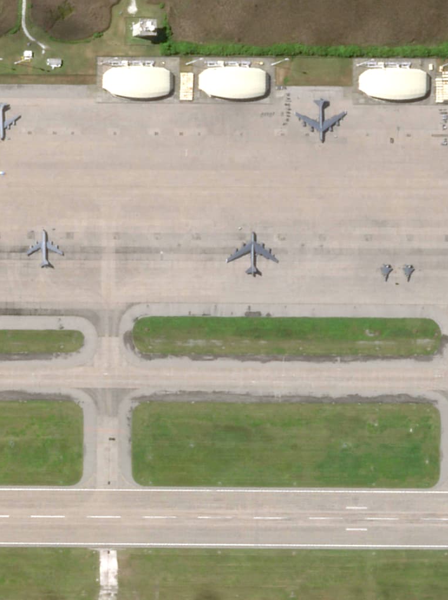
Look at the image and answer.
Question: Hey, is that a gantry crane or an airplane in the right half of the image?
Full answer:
Visible in the right half of the image is an airplane.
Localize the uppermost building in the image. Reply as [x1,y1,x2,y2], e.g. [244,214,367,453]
[131,19,158,37]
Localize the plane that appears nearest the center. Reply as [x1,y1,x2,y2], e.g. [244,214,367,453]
[227,230,278,274]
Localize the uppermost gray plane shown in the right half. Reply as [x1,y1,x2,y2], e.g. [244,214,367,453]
[297,99,349,143]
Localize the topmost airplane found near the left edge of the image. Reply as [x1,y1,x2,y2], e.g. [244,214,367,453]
[0,103,21,140]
